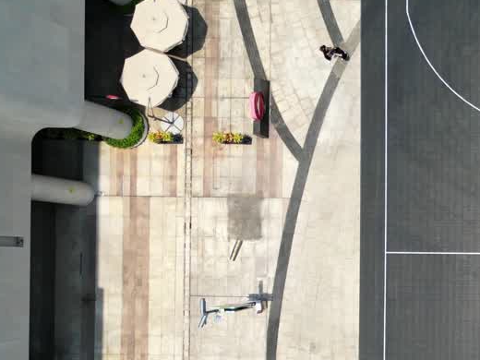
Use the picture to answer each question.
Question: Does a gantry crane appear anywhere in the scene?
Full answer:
No, I can see no gantry crane in this picture.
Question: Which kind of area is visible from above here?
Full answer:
It's a sports ground.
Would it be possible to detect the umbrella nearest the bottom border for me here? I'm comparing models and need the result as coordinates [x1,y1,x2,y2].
[119,48,183,134]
